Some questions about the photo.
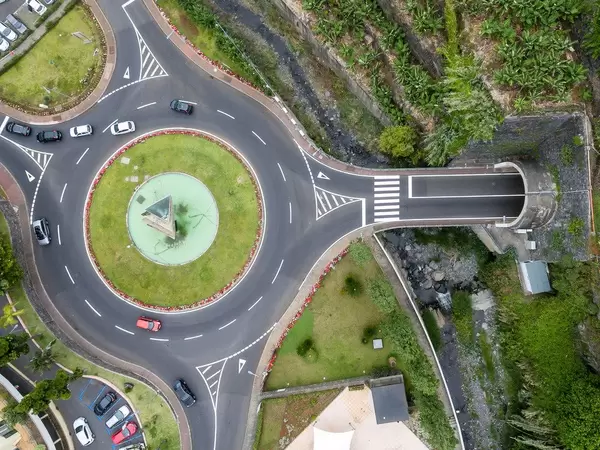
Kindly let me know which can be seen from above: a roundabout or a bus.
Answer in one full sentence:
The image shows a roundabout.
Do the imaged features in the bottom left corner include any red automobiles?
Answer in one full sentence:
Yes, I can see a red automobile in the bottom left corner.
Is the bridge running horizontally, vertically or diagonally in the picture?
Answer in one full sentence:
The bridge is oriented horizontally.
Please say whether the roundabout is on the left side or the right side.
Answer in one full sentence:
It is on the left.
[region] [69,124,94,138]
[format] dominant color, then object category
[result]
white vehicle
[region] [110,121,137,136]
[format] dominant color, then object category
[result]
white car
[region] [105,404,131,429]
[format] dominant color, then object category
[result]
white car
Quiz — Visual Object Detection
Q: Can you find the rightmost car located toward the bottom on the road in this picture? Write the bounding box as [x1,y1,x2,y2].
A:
[174,378,196,407]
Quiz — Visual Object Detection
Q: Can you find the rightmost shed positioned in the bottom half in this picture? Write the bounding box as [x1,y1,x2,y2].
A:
[517,261,552,294]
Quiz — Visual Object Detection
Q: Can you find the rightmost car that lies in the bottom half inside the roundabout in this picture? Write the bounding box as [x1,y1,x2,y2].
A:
[136,316,162,332]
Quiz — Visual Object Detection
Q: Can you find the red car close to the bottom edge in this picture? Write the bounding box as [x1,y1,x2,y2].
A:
[111,421,138,445]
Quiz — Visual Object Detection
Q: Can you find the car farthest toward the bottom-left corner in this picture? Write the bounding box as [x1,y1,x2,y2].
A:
[75,417,95,446]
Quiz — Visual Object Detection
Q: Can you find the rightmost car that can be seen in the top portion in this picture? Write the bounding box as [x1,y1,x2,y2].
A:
[169,99,195,115]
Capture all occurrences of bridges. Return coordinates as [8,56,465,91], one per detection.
[326,154,524,234]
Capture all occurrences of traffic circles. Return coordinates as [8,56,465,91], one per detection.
[33,79,316,362]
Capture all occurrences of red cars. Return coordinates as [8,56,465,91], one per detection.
[136,316,162,332]
[111,421,138,445]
